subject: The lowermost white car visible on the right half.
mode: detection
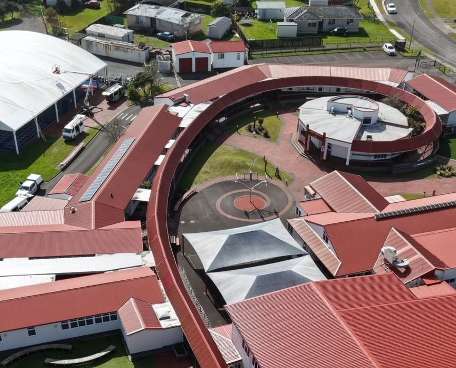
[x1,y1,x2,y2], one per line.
[383,40,397,53]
